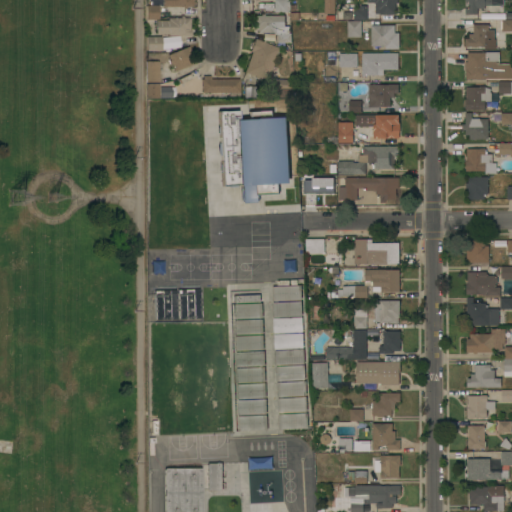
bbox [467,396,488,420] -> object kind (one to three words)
house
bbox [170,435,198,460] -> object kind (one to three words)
basketball court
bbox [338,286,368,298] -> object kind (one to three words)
building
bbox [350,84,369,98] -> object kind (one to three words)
swimming pool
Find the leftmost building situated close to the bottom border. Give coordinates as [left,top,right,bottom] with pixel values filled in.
[164,468,204,512]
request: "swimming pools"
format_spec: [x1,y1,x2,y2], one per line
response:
[504,280,512,294]
[336,427,356,436]
[314,332,330,354]
[350,84,369,98]
[344,270,364,281]
[329,374,342,383]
